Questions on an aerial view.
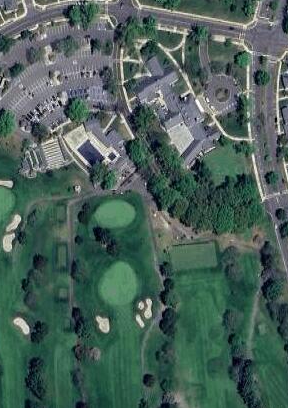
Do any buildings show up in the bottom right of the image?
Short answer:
No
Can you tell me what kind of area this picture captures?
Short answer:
golf course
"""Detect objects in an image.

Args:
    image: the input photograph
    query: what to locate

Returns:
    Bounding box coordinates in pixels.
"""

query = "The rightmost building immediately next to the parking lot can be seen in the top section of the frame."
[161,78,218,167]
